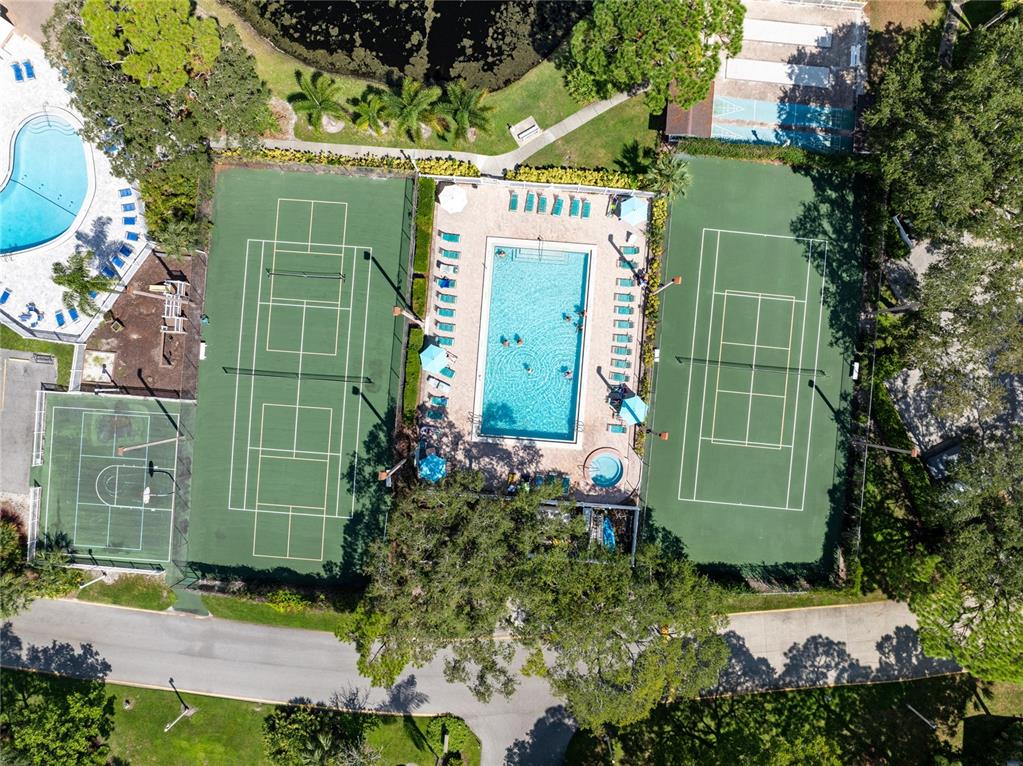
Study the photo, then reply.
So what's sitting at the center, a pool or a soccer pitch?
pool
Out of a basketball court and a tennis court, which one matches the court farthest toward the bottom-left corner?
basketball court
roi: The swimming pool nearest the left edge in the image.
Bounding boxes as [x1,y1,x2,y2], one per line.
[0,100,94,260]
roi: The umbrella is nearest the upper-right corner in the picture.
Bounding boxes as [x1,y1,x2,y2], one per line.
[621,196,647,227]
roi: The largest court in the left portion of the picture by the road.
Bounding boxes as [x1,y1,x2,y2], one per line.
[187,168,414,579]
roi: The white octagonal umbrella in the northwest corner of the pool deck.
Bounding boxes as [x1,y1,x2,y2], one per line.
[439,185,468,213]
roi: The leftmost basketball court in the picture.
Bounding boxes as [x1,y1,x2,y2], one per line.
[30,391,196,576]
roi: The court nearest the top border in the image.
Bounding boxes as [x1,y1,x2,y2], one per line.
[739,18,833,48]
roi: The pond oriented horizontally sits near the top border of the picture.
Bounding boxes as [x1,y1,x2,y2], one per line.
[224,0,593,95]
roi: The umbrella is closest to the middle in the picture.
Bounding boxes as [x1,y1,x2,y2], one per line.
[420,345,448,375]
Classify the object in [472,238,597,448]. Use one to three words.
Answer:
swimming pool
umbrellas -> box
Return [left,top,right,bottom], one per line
[621,196,647,227]
[420,345,448,375]
[439,185,468,213]
[421,453,446,481]
[617,393,649,426]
